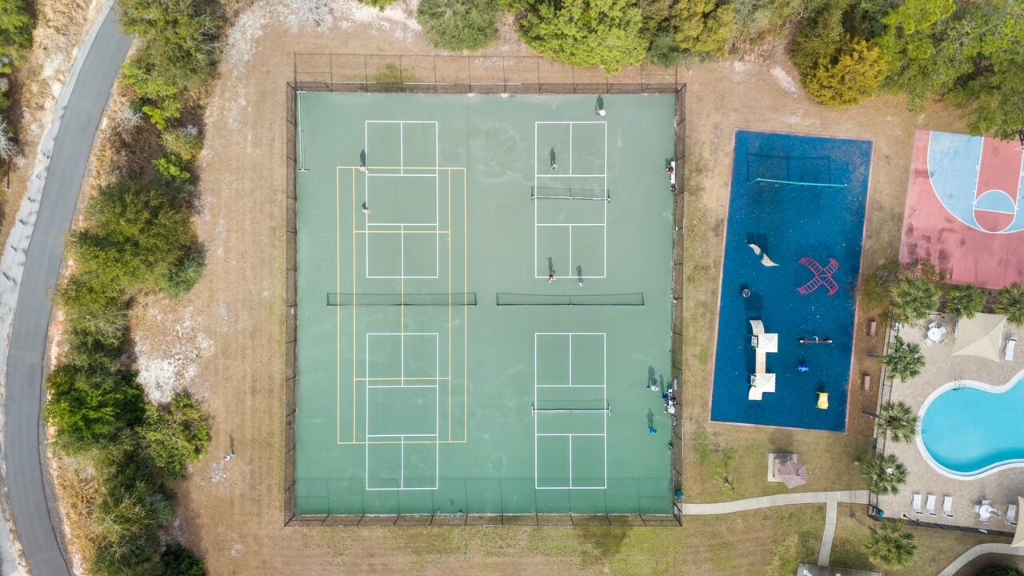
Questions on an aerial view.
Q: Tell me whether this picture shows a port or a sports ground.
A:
sports ground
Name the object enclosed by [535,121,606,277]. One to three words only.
sports court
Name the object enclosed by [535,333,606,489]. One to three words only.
sports court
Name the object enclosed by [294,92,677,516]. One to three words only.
tennis court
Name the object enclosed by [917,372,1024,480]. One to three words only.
swimming pool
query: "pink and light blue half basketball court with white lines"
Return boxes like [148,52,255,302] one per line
[899,129,1024,287]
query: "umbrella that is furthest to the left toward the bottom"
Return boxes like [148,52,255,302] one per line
[778,460,805,487]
